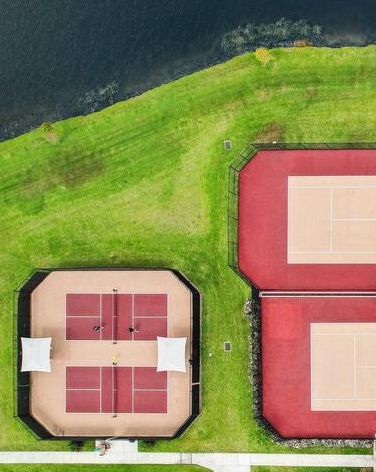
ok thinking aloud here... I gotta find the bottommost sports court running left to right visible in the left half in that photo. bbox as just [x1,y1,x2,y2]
[65,366,167,413]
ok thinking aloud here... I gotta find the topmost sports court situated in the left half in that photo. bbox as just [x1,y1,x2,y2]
[65,293,167,340]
